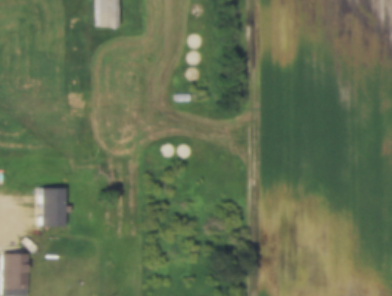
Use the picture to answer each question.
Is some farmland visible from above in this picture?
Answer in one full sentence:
Yes, there is farmland in the image.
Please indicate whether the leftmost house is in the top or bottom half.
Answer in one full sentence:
It is in the bottom half that the leftmost house appears.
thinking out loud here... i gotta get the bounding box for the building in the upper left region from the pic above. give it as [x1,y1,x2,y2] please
[95,0,118,28]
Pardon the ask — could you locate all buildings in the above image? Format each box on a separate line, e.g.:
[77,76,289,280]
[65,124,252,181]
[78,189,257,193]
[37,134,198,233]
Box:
[0,253,32,296]
[95,0,118,28]
[38,187,68,228]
